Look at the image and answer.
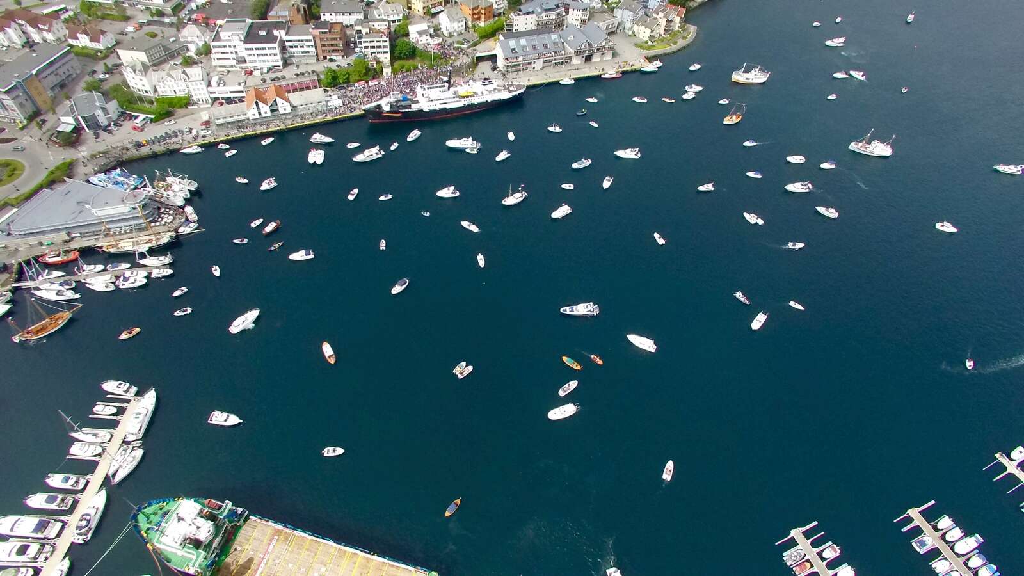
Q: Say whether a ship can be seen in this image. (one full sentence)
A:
Yes, a ship appears in the view.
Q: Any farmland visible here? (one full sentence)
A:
No, the picture contains no farmland.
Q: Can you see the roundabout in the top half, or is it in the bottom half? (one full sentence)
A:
You can find the roundabout in the top half.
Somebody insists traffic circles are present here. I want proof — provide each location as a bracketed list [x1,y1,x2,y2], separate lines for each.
[0,147,52,195]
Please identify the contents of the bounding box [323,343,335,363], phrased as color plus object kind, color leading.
white boat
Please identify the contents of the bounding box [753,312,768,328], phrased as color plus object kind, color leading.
white boat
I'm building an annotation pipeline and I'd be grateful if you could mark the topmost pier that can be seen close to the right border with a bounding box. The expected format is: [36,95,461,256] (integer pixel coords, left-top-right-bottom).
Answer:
[982,452,1024,494]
